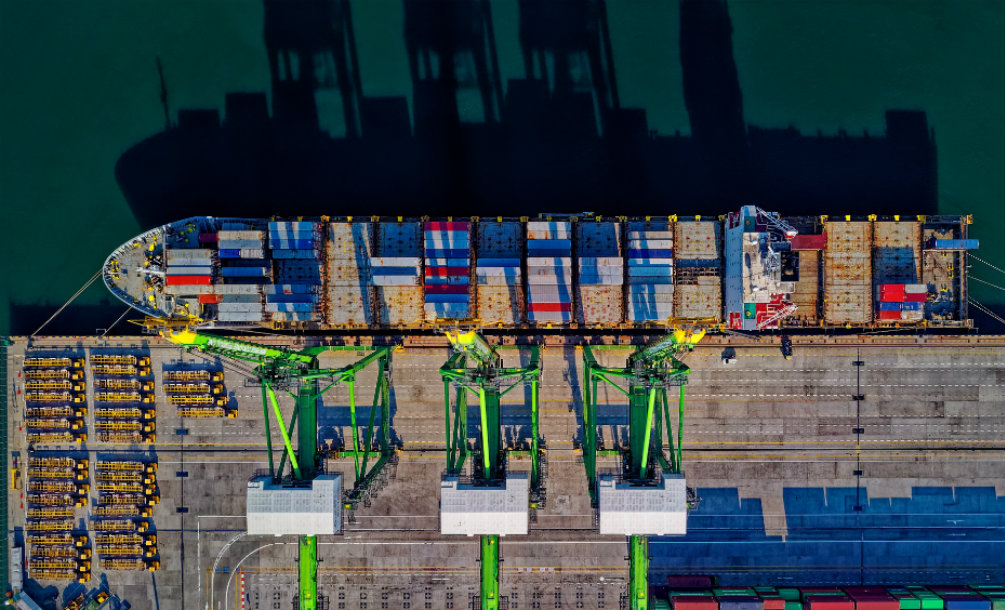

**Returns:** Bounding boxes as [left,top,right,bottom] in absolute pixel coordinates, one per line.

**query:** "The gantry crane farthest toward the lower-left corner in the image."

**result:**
[136,313,408,610]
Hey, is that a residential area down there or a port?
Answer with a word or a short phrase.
port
